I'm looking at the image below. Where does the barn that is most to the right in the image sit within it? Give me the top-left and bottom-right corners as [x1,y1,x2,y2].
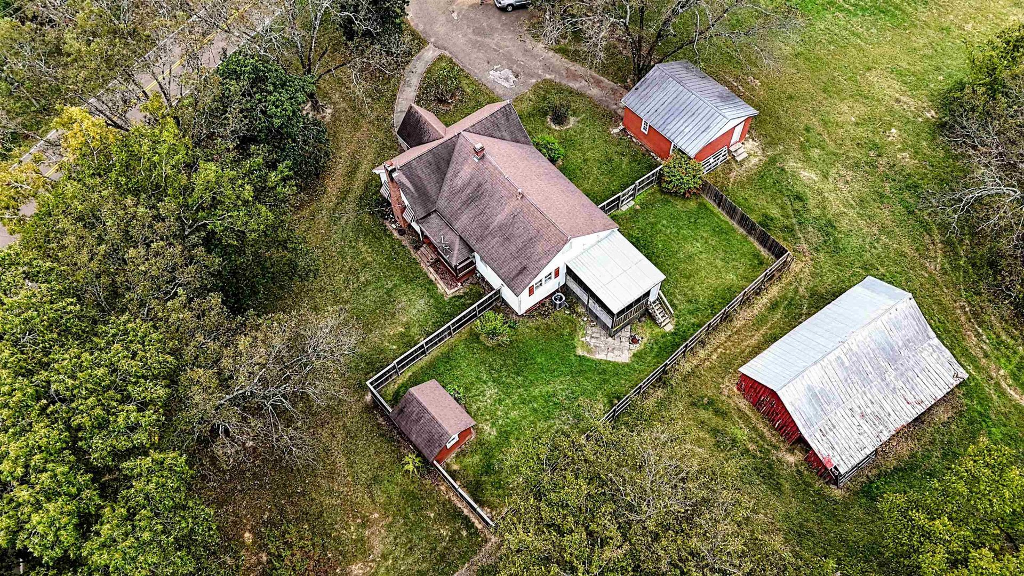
[738,277,970,489]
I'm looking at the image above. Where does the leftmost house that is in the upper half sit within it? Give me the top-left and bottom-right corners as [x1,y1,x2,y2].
[373,97,674,337]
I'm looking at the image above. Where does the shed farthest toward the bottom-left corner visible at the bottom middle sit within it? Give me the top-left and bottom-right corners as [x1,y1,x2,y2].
[391,381,475,462]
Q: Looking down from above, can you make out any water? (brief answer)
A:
No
